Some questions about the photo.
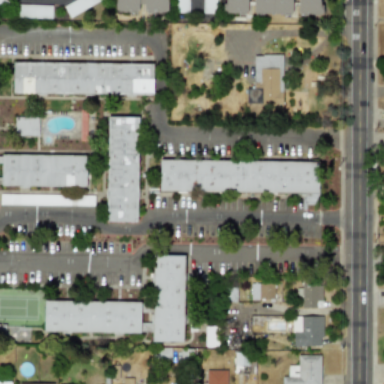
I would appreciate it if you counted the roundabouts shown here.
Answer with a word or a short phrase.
0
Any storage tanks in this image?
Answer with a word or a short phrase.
No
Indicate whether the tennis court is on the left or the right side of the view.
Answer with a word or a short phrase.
left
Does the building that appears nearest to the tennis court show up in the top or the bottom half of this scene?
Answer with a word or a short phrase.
bottom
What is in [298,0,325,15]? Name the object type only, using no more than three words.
building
